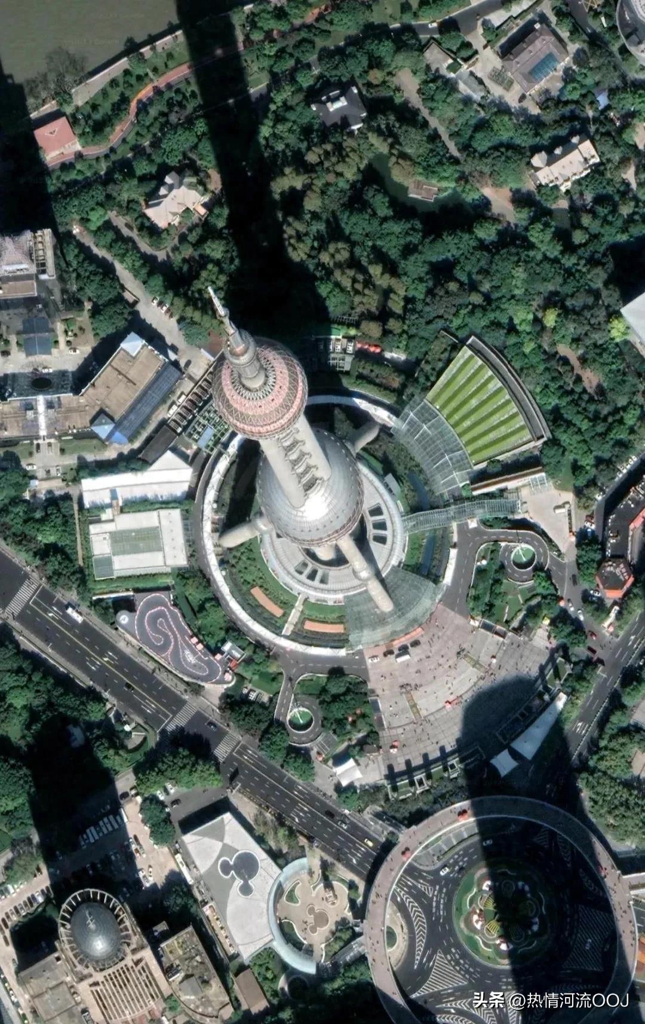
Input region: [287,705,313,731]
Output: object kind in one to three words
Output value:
fountain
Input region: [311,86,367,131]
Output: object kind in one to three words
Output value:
house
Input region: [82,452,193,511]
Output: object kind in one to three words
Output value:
building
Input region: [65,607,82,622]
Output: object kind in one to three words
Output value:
vehicle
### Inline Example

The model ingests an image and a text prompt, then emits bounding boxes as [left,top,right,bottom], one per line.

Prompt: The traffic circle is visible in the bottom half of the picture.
[385,815,616,1024]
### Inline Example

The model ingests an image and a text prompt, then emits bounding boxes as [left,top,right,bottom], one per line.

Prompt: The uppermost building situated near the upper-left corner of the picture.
[34,117,78,159]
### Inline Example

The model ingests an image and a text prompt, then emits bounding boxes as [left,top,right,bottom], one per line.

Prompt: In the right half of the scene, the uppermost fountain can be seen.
[511,542,536,569]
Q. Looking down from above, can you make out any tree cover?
Yes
